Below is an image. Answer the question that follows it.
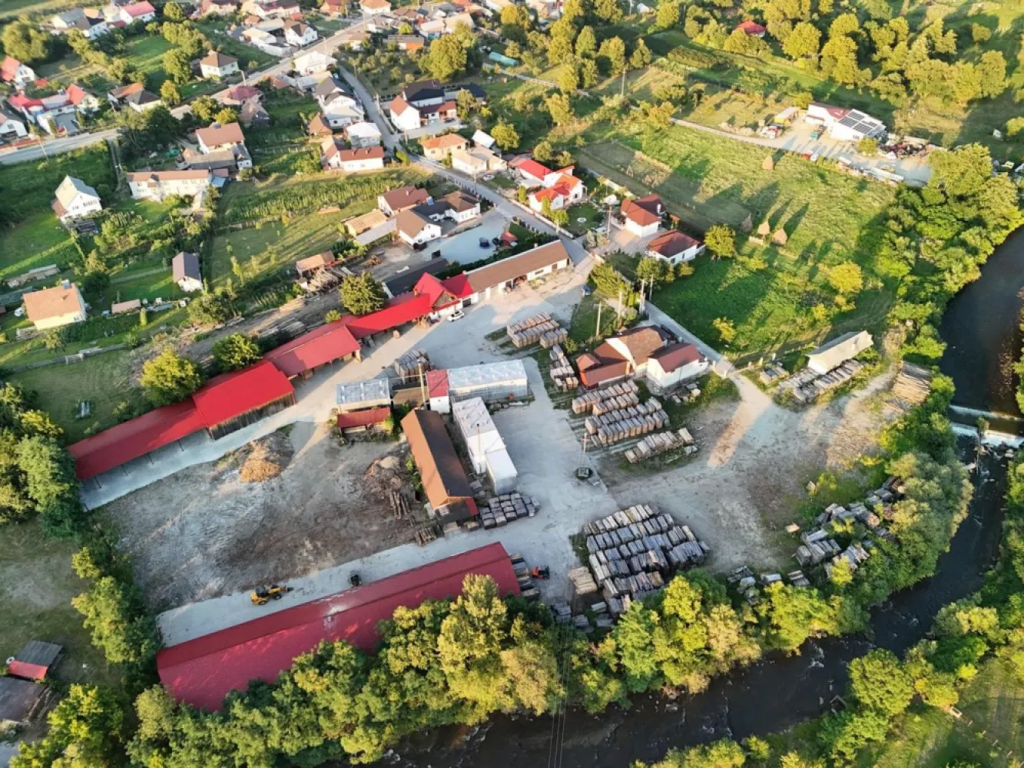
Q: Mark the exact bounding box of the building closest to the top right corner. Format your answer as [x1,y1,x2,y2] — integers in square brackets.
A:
[805,104,890,148]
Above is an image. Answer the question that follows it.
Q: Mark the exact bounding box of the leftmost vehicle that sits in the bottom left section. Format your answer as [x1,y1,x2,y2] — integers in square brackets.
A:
[242,581,290,608]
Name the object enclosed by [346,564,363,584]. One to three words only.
work vehicle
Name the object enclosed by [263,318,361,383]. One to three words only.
shed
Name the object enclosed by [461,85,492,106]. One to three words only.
house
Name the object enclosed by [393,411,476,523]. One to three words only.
building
